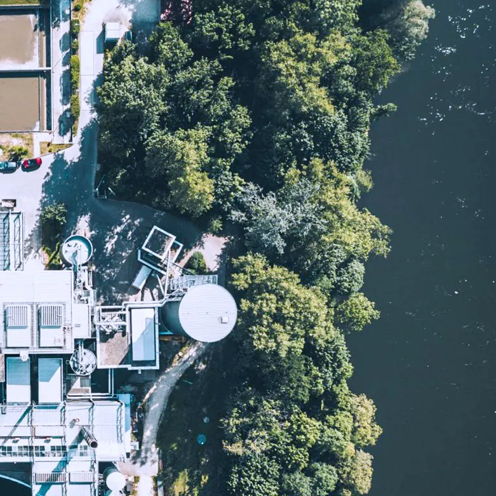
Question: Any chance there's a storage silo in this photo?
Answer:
Yes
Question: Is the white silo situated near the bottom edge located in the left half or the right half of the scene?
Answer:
left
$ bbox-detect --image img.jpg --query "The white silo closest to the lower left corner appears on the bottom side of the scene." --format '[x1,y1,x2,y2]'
[100,463,125,489]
